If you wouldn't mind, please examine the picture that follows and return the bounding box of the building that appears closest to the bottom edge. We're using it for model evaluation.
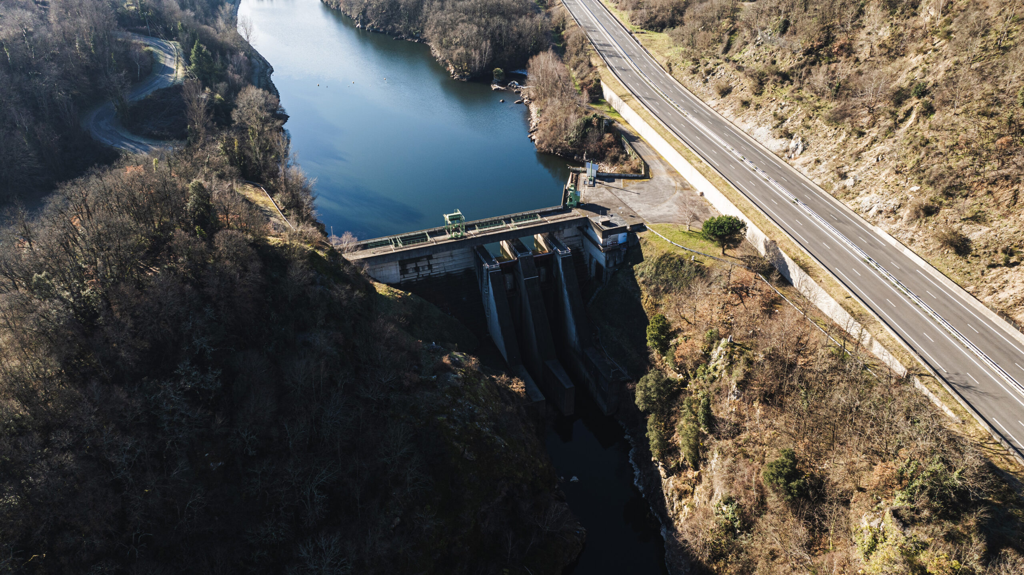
[579,212,644,283]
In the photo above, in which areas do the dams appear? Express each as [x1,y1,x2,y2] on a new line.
[326,204,621,425]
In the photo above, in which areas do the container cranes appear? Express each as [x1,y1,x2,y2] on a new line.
[441,207,467,239]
